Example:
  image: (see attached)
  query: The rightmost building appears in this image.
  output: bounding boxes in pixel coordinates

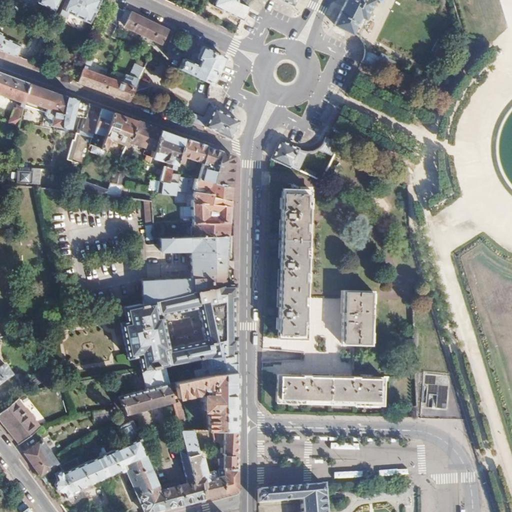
[422,373,449,410]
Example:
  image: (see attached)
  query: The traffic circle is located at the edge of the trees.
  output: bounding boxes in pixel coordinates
[225,0,352,160]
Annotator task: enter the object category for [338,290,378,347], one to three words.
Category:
building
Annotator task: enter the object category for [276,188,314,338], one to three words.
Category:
building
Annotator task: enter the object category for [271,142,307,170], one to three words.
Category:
house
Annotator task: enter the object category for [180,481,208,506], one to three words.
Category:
house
